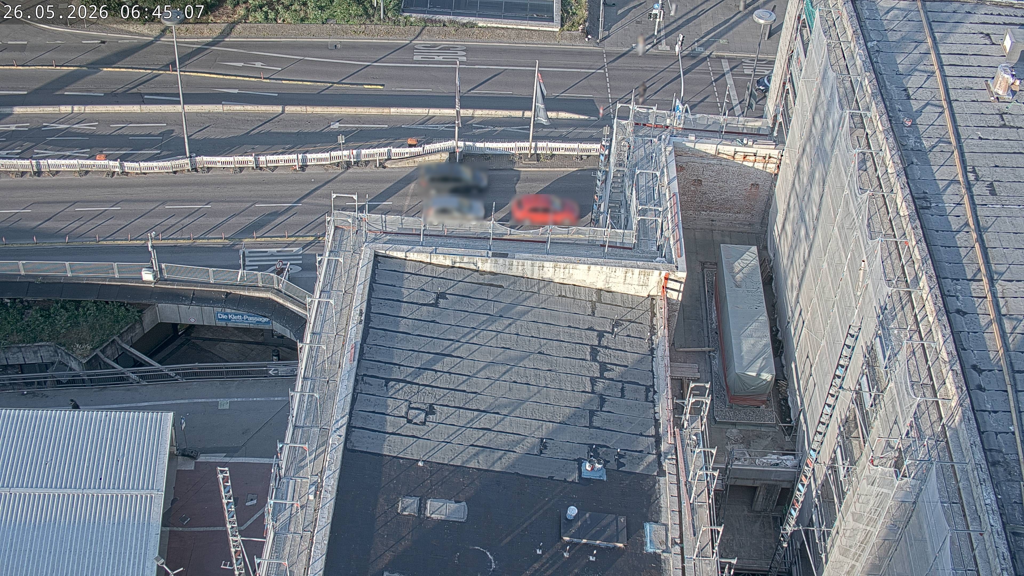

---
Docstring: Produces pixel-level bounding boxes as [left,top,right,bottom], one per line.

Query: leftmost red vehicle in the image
[509,190,581,228]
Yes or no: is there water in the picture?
No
